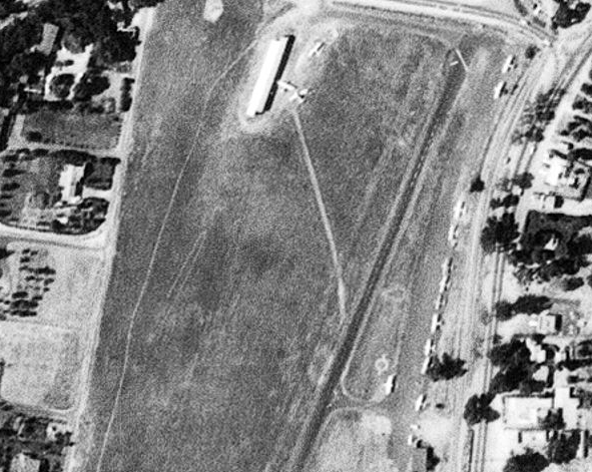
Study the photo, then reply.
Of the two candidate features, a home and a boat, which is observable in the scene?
home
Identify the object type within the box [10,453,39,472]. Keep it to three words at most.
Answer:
house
